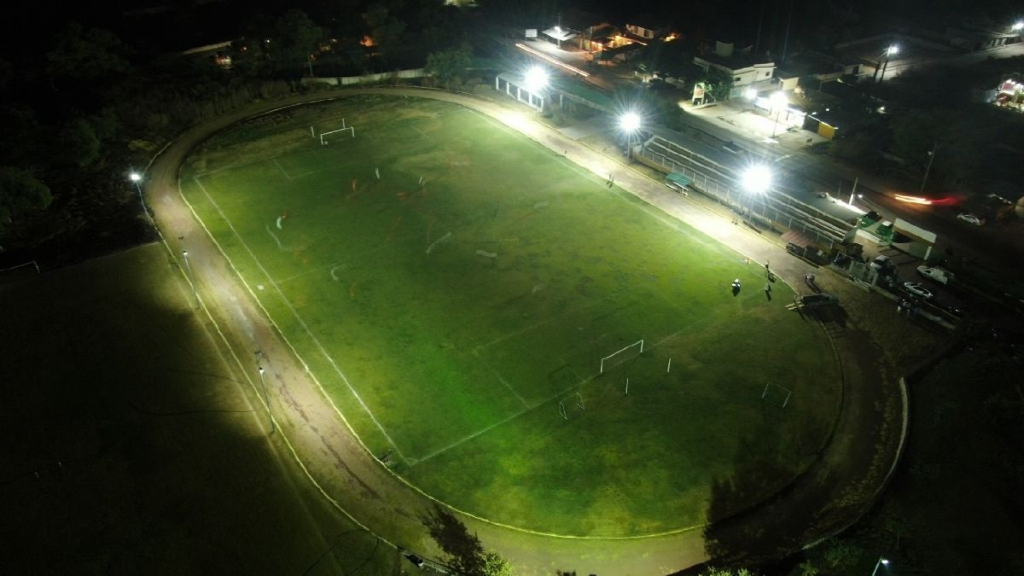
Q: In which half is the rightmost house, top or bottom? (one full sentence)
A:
The top half of the photo is where the rightmost house is.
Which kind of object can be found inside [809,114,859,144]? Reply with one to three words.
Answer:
shed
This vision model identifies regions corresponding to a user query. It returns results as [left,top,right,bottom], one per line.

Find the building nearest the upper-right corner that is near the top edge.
[974,11,1024,47]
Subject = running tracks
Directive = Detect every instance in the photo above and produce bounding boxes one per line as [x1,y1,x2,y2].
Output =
[143,86,904,576]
